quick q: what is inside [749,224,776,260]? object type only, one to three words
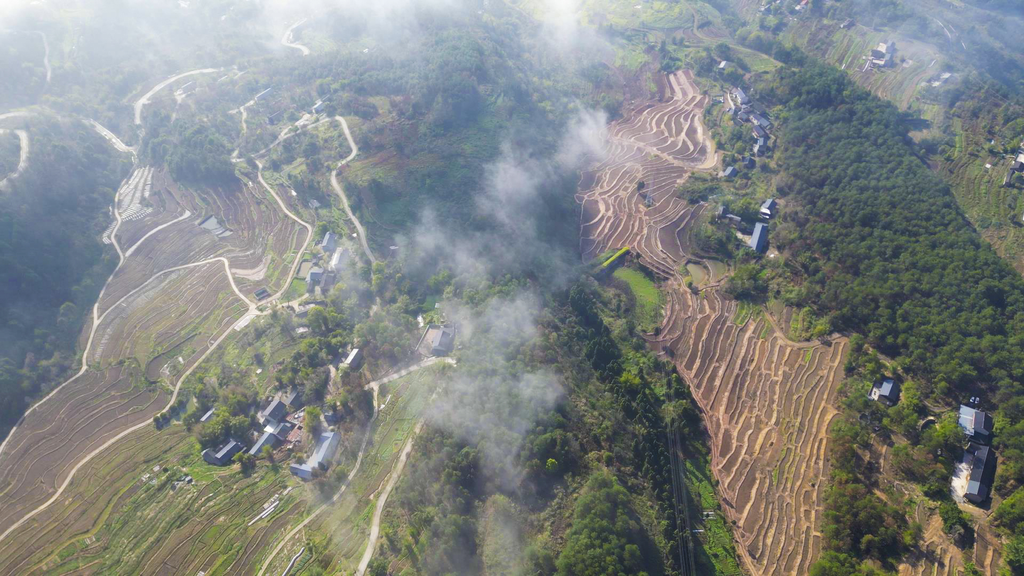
house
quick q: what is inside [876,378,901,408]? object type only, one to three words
house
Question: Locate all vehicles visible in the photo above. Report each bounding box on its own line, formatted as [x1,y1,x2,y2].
[968,396,977,405]
[973,397,982,405]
